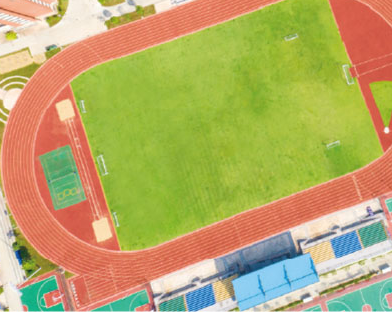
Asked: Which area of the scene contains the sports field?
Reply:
center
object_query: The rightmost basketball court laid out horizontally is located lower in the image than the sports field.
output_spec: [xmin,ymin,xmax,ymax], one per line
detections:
[318,274,392,312]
